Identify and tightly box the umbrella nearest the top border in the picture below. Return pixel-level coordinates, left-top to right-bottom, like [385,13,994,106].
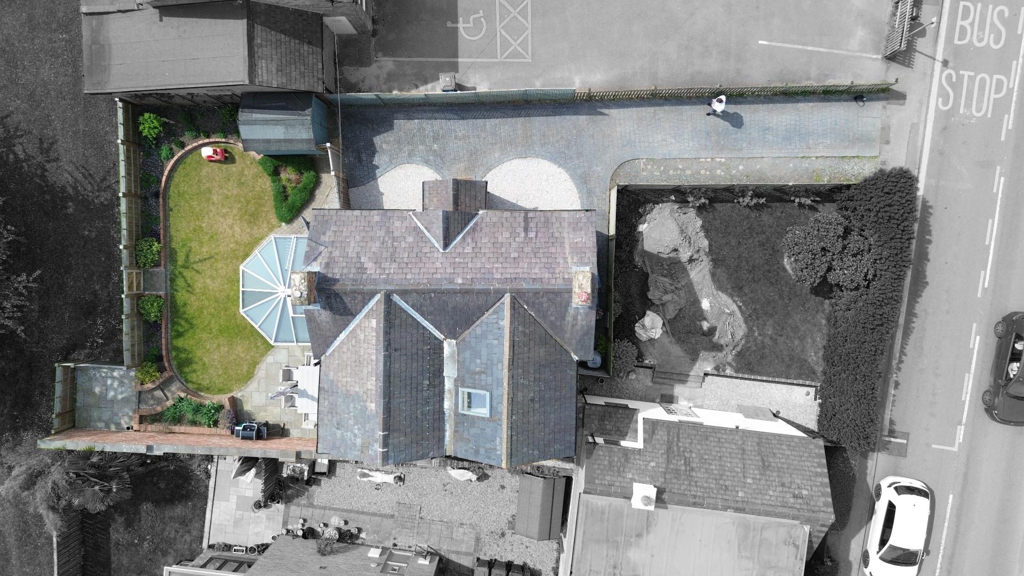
[269,383,301,398]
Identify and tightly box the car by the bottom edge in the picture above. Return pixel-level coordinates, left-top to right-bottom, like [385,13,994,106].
[862,475,934,576]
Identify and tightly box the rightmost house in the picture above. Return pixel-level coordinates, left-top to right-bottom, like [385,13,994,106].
[555,392,834,576]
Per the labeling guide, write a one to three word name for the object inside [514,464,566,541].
shed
